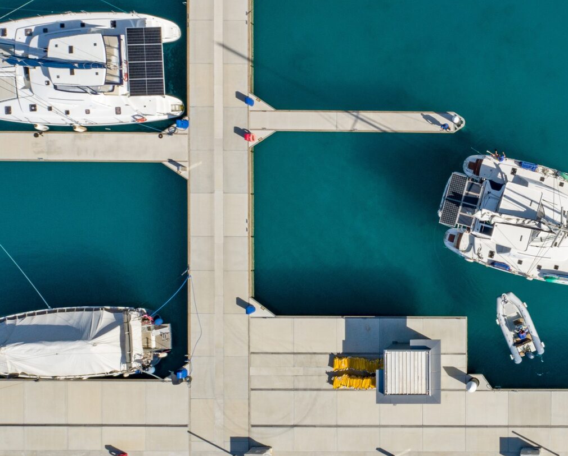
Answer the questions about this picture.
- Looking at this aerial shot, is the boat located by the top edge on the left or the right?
left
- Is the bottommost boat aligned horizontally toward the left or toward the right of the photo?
left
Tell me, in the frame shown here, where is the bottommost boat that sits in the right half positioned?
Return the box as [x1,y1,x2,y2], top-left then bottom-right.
[495,292,543,361]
